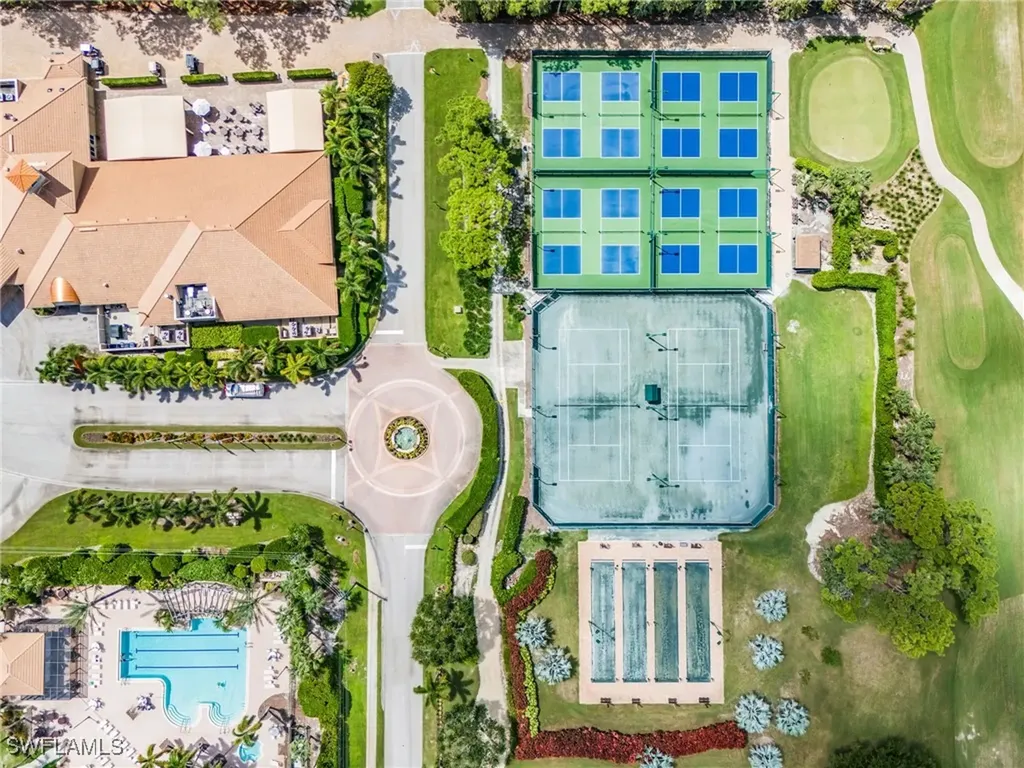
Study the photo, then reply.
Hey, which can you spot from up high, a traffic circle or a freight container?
traffic circle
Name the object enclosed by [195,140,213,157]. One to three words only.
umbrella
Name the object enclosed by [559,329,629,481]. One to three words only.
tennis court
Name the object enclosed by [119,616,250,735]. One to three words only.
swimming pool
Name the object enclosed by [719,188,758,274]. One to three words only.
sports court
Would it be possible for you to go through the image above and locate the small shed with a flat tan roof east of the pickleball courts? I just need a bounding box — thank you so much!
[790,235,821,269]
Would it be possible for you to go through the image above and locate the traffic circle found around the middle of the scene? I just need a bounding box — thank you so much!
[347,345,484,532]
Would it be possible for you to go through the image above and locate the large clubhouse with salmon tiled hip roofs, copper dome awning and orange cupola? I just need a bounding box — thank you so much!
[0,54,340,327]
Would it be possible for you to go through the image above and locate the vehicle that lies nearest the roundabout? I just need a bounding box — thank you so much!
[227,382,267,398]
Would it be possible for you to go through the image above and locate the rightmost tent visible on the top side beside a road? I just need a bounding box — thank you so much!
[266,88,330,157]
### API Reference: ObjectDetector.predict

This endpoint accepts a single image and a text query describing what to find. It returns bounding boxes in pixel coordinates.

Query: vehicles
[80,43,100,57]
[185,55,199,74]
[227,382,267,398]
[148,61,163,78]
[90,58,105,77]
